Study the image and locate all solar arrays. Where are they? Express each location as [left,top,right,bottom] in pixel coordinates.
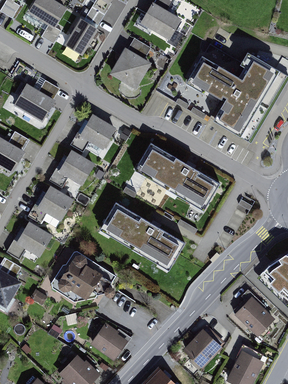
[195,350,212,367]
[0,154,15,170]
[75,26,94,53]
[30,5,58,26]
[206,340,221,356]
[15,98,46,120]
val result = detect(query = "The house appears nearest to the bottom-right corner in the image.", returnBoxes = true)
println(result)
[227,350,263,384]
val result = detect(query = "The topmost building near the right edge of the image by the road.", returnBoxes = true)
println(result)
[189,52,276,136]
